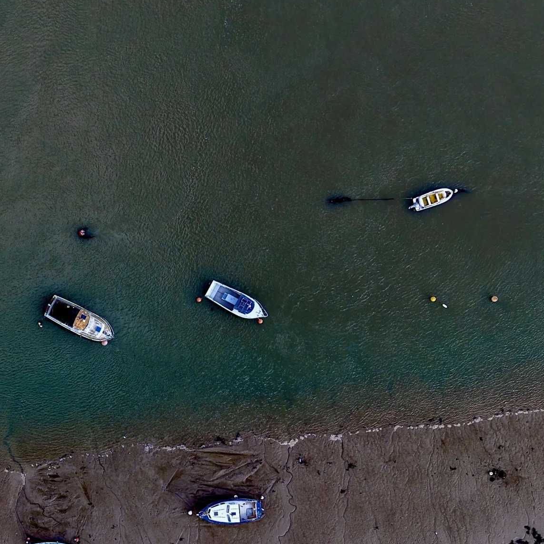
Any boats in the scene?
Yes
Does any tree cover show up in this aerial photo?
No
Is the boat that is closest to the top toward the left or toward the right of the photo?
right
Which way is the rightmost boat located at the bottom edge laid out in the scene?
from side to side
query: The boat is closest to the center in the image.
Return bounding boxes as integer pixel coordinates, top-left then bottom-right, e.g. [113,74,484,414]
[205,281,268,318]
